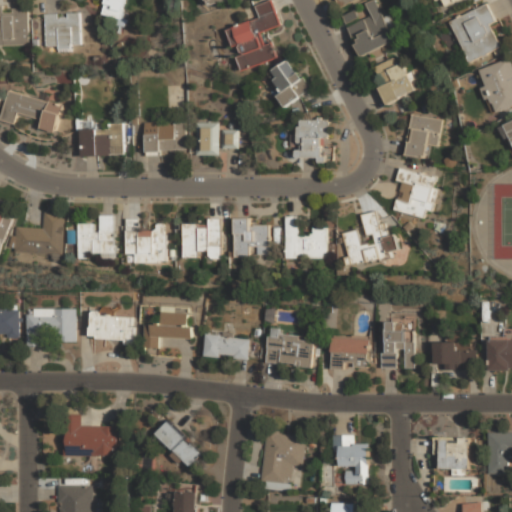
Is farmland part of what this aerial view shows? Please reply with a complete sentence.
No, there is no farmland in the image.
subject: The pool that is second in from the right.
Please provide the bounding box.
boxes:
[355,311,370,336]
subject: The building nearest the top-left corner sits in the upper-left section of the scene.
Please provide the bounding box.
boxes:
[0,12,30,46]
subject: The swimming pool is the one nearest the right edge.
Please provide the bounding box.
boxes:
[444,477,479,492]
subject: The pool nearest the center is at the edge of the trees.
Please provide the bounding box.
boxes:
[274,310,296,325]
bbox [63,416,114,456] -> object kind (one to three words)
house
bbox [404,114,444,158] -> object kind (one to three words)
house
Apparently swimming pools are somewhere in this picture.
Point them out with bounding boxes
[274,310,296,325]
[355,311,370,336]
[444,477,479,492]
